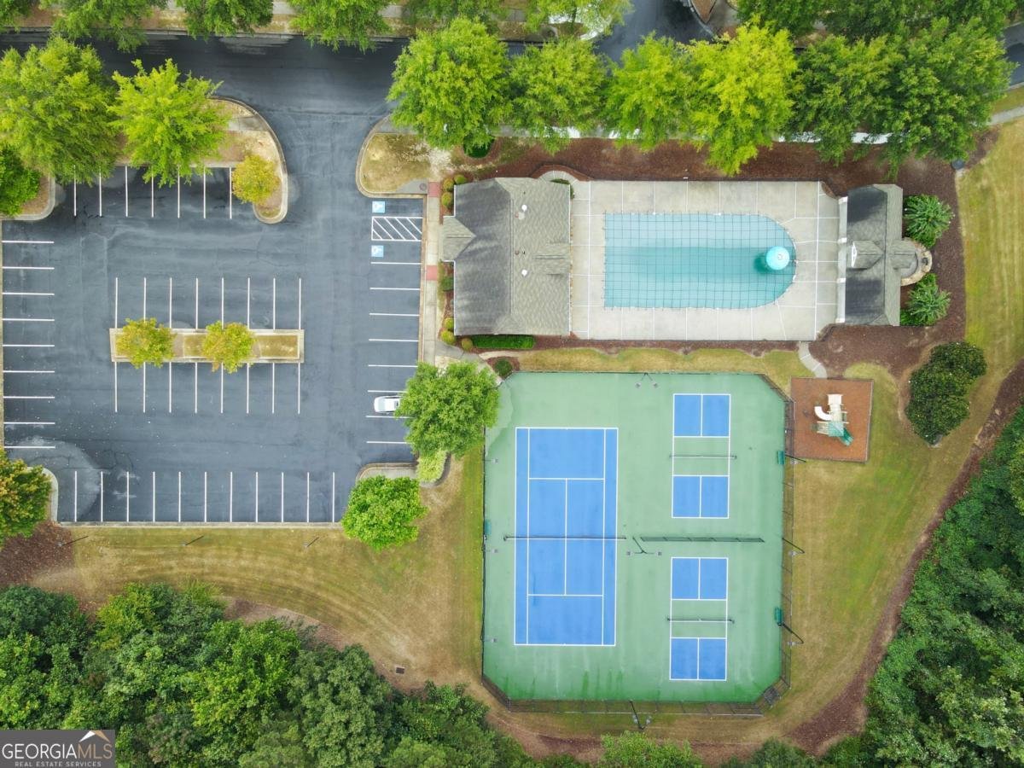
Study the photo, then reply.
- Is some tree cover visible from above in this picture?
Yes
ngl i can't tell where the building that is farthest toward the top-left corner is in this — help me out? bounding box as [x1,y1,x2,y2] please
[441,177,571,336]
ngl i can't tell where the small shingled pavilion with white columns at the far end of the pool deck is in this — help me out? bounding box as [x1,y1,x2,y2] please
[835,185,919,326]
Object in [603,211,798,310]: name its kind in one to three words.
swimming pool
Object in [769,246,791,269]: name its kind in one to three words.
fountain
